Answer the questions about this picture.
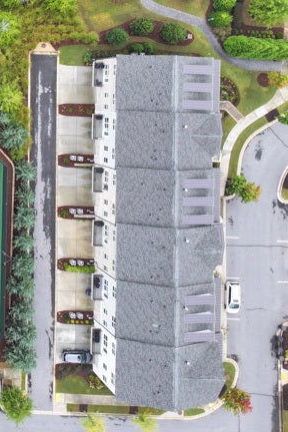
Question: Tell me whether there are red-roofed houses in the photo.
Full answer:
No, this view has no red-roofed house in it.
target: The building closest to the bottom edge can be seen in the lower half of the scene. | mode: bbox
[93,317,227,408]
